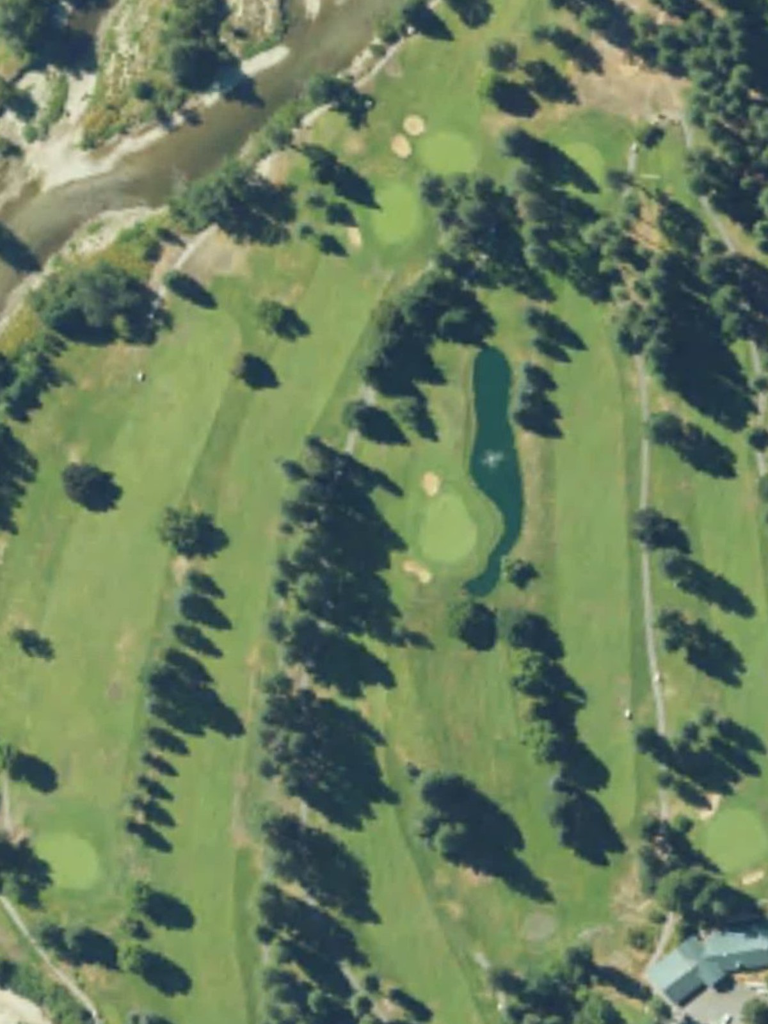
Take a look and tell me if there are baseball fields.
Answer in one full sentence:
No, the scene contains no baseball field.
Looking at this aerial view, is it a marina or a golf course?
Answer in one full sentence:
This image shows a golf course.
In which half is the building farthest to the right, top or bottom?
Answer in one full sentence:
Seen from above, the building farthest to the right lies in the bottom half of the view.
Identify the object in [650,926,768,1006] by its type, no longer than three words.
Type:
building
